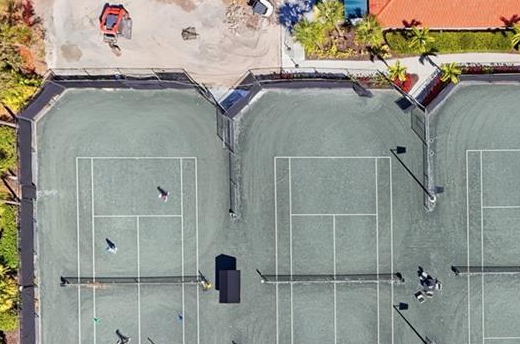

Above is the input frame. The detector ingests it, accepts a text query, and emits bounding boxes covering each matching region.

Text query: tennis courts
[427,82,520,344]
[231,88,430,344]
[34,87,236,344]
